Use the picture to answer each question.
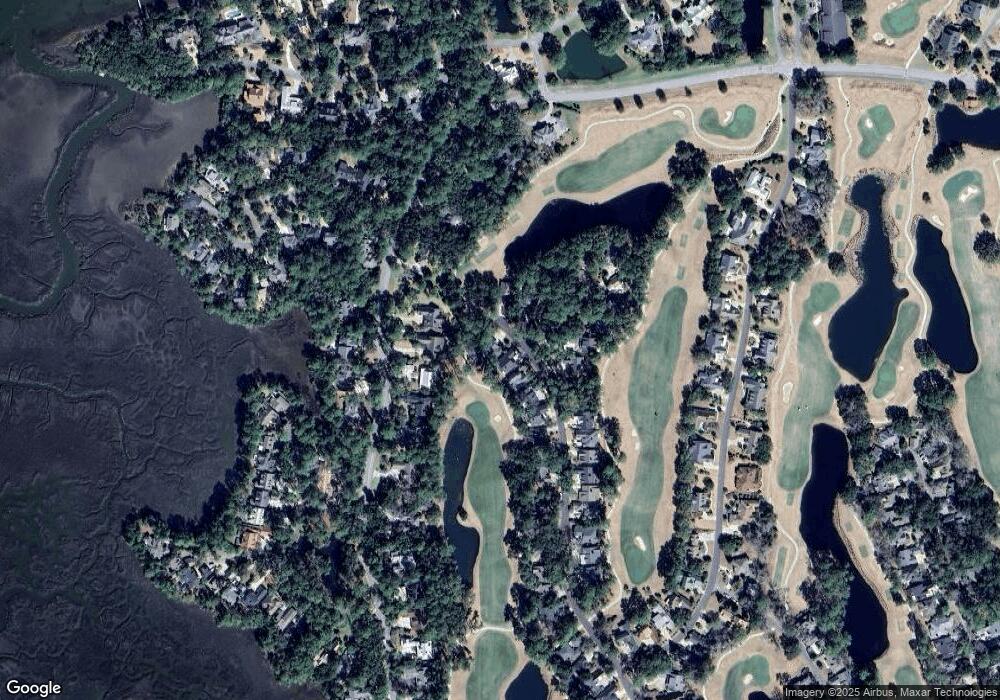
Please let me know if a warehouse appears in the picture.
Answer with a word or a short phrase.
No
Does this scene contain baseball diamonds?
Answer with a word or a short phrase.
No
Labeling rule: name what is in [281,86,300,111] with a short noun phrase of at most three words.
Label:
house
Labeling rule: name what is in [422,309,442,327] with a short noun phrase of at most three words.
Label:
house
